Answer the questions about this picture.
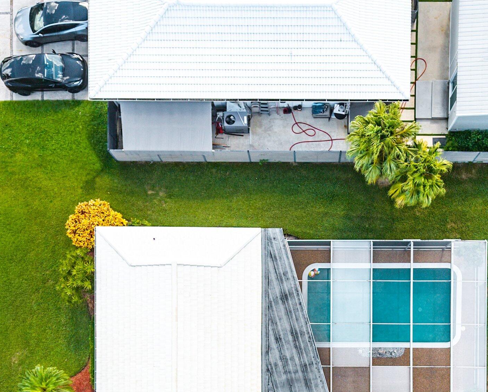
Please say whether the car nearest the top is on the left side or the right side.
left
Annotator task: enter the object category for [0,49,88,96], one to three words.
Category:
car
